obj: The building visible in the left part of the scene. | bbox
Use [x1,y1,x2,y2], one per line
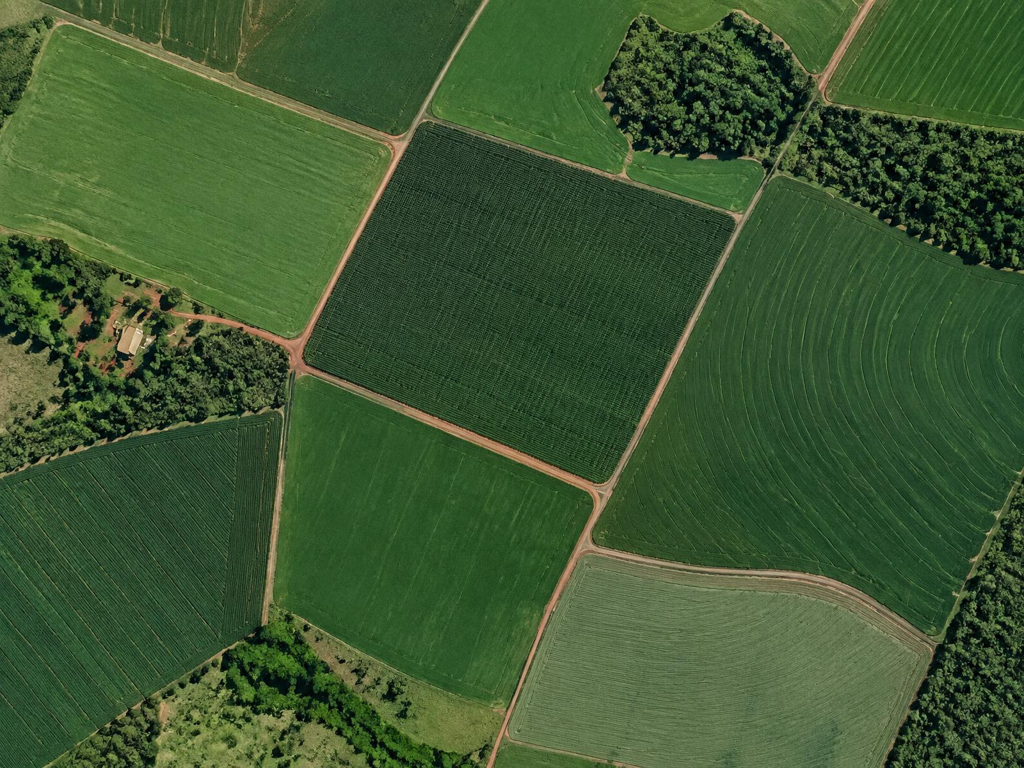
[116,325,142,355]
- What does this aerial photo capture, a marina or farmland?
farmland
